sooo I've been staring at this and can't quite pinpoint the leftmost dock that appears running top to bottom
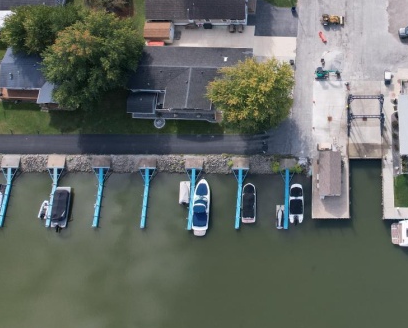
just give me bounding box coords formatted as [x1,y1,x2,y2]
[0,156,22,227]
